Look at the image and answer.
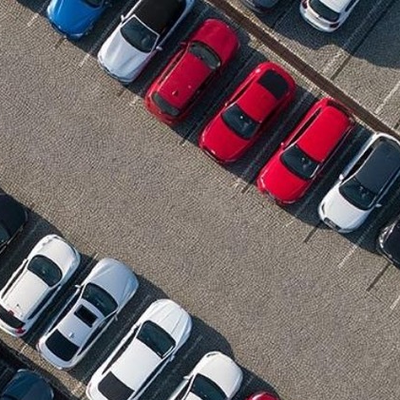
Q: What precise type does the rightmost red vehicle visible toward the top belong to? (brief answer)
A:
car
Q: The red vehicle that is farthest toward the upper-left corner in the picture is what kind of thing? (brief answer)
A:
car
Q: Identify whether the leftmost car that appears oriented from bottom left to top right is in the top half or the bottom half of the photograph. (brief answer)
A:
bottom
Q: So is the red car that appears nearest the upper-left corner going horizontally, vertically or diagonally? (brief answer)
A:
diagonally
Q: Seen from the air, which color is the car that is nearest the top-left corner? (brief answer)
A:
blue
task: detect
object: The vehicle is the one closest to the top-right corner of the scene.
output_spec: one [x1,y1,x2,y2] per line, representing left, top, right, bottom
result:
[299,0,365,37]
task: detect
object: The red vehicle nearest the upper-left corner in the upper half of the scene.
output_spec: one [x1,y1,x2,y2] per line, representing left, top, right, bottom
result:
[142,20,240,127]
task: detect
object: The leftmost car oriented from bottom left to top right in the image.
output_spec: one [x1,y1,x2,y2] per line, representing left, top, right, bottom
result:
[0,236,82,340]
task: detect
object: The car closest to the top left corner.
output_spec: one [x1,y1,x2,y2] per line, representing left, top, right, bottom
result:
[51,0,115,39]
